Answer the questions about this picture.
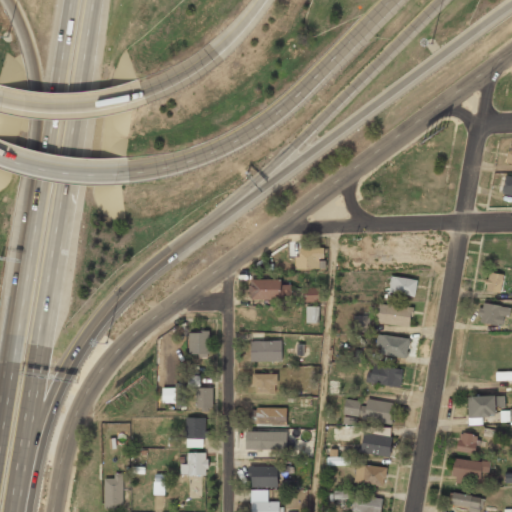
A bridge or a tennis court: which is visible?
bridge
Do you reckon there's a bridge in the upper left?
Yes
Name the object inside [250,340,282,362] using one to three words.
house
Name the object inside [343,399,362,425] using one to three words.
shed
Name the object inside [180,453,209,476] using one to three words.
house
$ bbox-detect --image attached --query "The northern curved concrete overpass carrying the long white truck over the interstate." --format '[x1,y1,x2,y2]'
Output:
[0,81,142,119]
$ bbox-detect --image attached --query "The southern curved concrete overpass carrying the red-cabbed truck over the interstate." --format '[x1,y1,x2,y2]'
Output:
[0,138,129,185]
